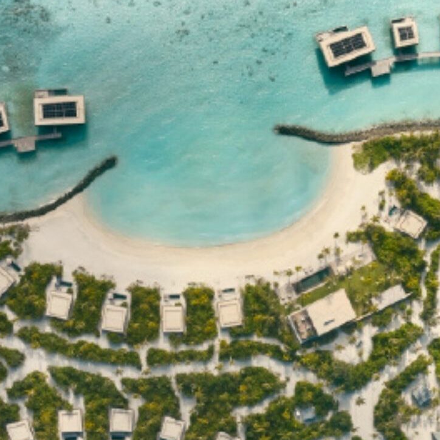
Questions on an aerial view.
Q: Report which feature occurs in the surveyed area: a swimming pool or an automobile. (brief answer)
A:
swimming pool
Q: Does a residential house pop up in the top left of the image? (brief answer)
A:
Yes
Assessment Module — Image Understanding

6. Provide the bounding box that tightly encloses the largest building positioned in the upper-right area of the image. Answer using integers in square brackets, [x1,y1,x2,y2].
[318,23,376,68]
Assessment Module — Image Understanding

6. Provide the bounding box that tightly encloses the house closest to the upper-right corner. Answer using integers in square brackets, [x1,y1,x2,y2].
[391,16,419,49]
